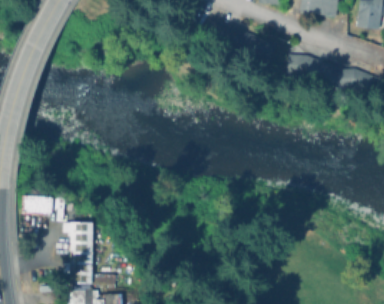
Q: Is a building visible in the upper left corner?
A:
No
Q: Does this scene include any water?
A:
Yes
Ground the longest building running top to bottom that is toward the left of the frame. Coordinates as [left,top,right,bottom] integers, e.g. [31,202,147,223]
[63,223,94,286]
